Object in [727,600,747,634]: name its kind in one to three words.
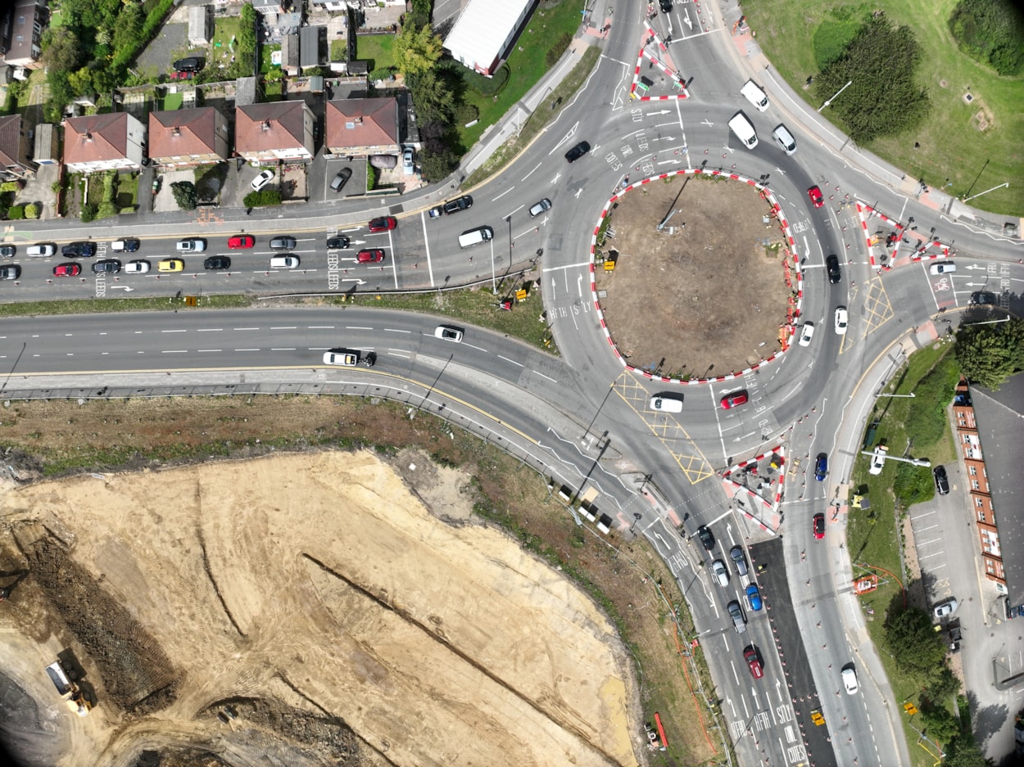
vehicle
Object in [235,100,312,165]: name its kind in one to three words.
house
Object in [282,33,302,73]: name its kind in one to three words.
building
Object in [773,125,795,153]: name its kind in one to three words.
car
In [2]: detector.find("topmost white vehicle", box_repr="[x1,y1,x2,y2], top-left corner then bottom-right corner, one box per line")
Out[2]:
[741,77,768,111]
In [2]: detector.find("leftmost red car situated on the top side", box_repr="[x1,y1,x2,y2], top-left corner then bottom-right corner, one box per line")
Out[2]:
[54,263,81,277]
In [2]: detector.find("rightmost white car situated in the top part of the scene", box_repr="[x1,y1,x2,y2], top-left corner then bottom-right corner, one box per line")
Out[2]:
[928,261,956,275]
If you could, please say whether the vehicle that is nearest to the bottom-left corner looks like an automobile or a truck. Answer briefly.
truck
